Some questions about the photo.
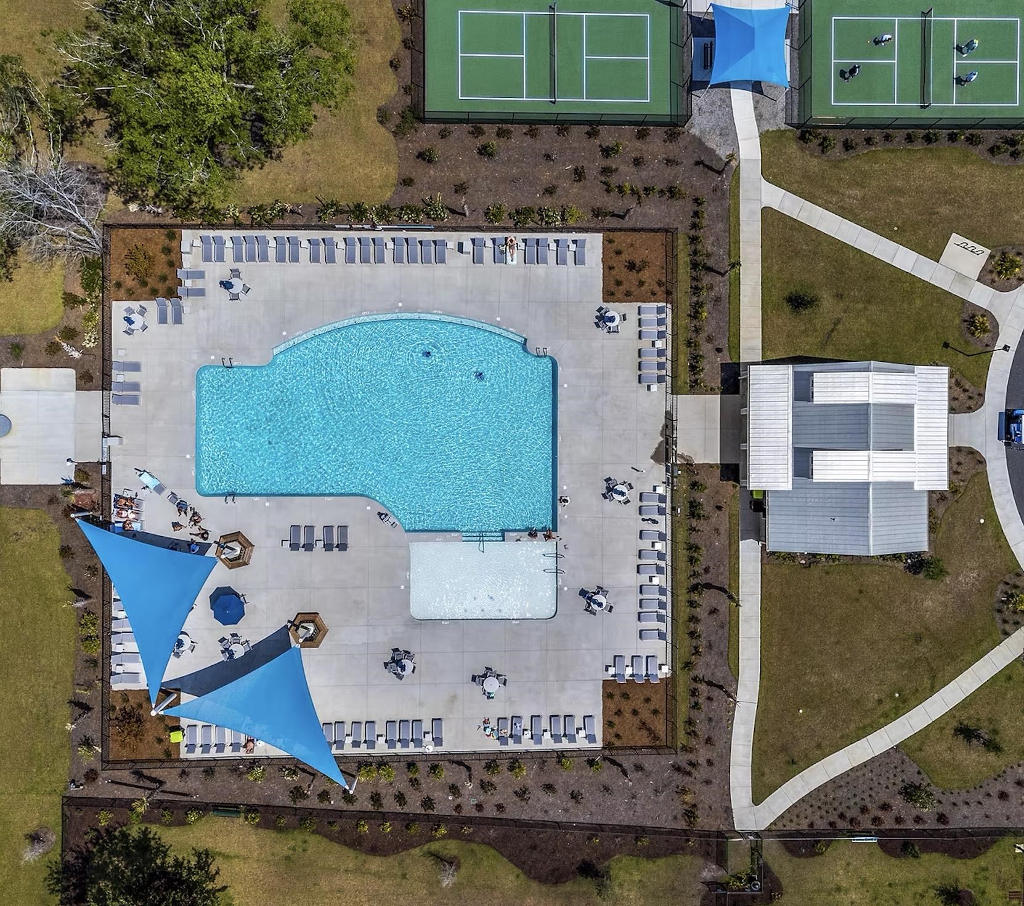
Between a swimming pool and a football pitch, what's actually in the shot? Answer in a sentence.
The image shows a swimming pool.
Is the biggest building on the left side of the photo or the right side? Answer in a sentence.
It is on the right.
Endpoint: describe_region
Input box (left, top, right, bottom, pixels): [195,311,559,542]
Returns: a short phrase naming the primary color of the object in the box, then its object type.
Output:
blue swimming pool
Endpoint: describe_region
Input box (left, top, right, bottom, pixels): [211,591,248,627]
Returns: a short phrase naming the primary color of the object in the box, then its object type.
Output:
blue umbrella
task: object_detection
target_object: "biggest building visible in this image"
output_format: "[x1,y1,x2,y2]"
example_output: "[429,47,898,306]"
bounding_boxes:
[737,361,951,556]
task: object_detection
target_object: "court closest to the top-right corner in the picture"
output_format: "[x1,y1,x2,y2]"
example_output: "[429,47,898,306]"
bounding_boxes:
[799,0,1024,129]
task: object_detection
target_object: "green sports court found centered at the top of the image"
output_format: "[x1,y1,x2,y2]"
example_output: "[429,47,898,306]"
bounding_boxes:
[424,0,683,126]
